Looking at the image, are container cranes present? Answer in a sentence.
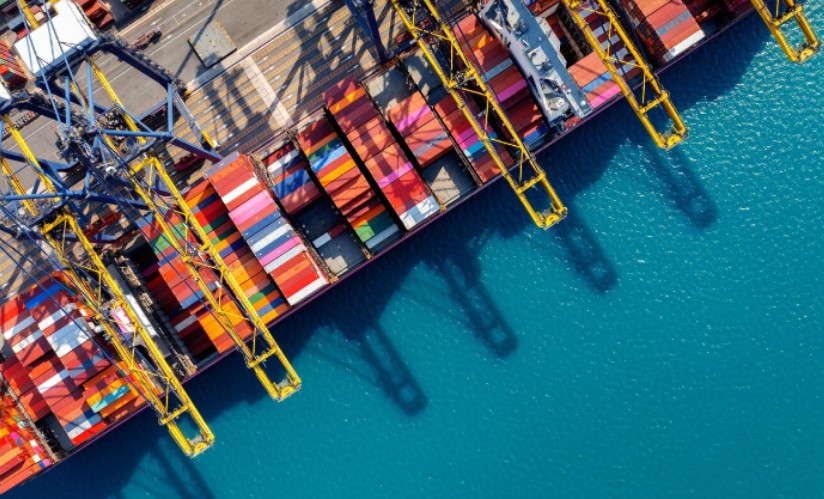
Yes, you can see a container crane in this photo.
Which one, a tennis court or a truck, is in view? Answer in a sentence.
Looking from above, you can make out a truck.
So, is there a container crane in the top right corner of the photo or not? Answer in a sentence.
Yes, a container crane appears in the top right corner of the photo.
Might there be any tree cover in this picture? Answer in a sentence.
No, the picture contains no tree cover.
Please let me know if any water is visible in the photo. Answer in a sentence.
Yes, there is water in the image.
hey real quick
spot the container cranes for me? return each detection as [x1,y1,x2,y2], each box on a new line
[0,71,216,461]
[745,0,824,70]
[325,0,573,232]
[561,0,696,153]
[12,0,304,404]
